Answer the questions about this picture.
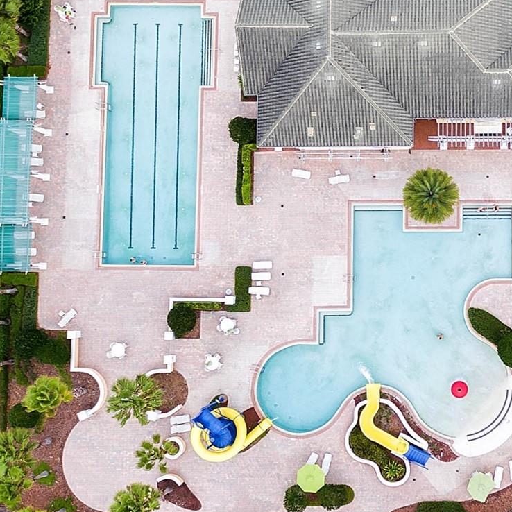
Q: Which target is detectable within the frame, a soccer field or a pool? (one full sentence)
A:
The image shows a pool.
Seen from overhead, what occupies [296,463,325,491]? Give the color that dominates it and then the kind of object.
green umbrella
